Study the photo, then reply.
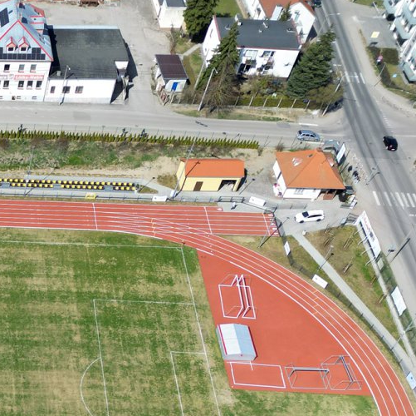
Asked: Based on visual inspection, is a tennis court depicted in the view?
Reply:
No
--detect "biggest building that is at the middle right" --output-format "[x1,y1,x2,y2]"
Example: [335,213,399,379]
[273,139,349,206]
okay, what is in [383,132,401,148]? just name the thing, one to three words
car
